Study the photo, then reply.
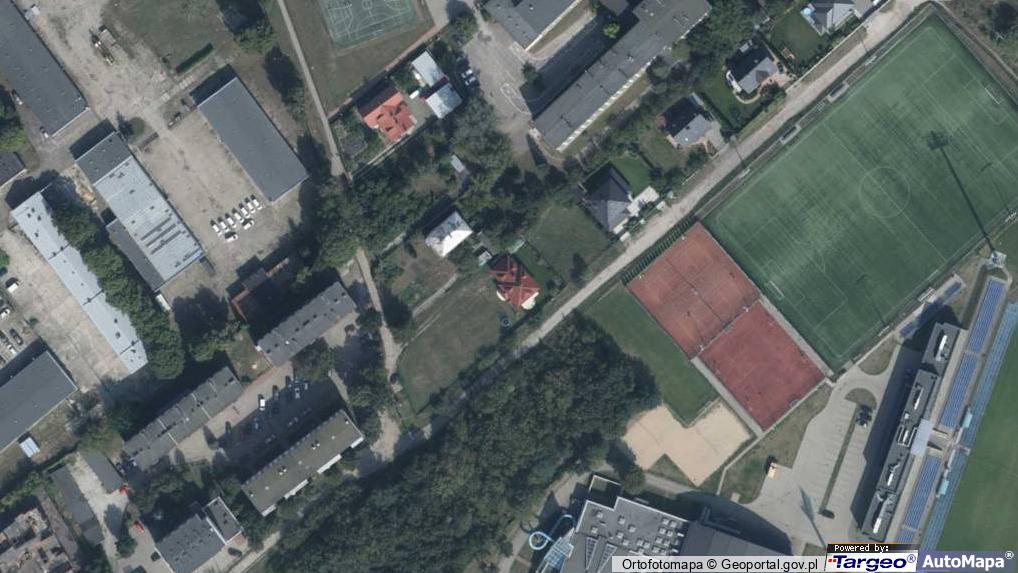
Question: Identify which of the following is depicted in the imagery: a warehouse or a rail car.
warehouse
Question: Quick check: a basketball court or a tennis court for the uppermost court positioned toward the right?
tennis court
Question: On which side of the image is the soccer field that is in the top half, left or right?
right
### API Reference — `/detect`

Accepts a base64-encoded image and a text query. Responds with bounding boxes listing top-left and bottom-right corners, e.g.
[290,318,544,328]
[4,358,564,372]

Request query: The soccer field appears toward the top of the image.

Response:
[703,14,1018,371]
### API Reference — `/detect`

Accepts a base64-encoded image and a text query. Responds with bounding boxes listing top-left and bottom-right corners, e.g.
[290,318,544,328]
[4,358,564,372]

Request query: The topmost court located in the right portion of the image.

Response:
[626,223,760,358]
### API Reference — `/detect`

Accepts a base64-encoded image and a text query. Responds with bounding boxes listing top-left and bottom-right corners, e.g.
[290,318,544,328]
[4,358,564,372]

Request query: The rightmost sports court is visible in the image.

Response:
[700,300,825,430]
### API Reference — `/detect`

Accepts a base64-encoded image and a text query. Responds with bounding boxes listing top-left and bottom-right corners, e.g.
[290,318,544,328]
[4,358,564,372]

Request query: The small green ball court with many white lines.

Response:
[318,0,419,49]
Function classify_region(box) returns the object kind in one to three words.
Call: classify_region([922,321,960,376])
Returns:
building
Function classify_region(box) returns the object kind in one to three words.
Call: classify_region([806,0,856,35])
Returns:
house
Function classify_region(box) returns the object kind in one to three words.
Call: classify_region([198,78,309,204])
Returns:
warehouse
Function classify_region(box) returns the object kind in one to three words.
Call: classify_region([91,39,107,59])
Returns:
vehicle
